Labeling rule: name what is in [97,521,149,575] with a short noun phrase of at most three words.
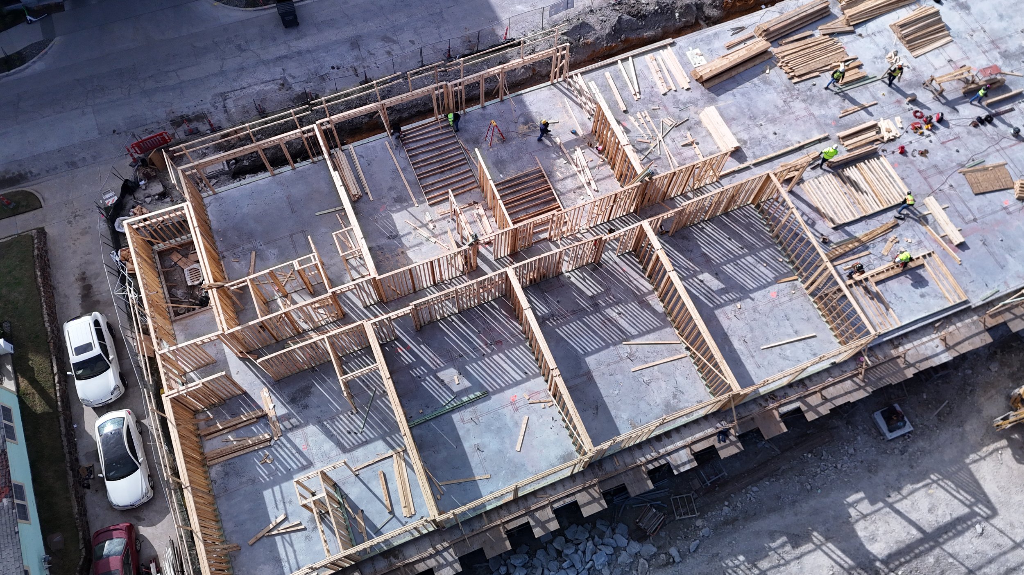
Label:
car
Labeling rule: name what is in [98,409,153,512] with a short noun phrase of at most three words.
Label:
car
